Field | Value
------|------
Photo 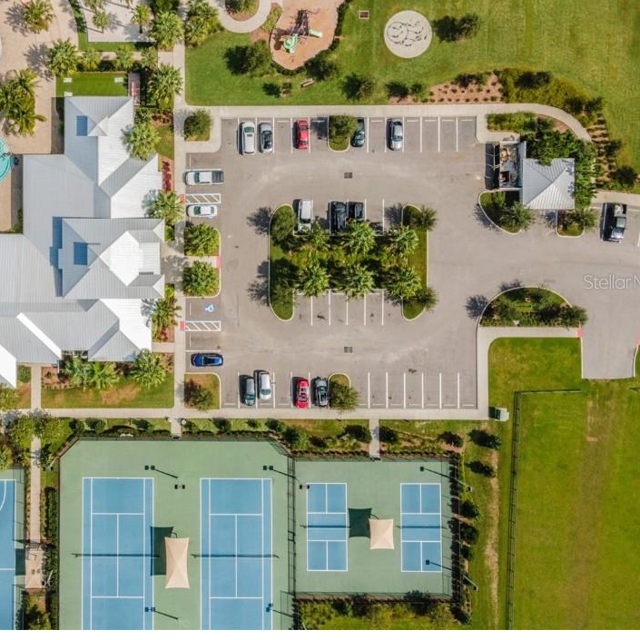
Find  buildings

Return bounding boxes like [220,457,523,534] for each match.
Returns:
[516,159,574,209]
[0,98,164,390]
